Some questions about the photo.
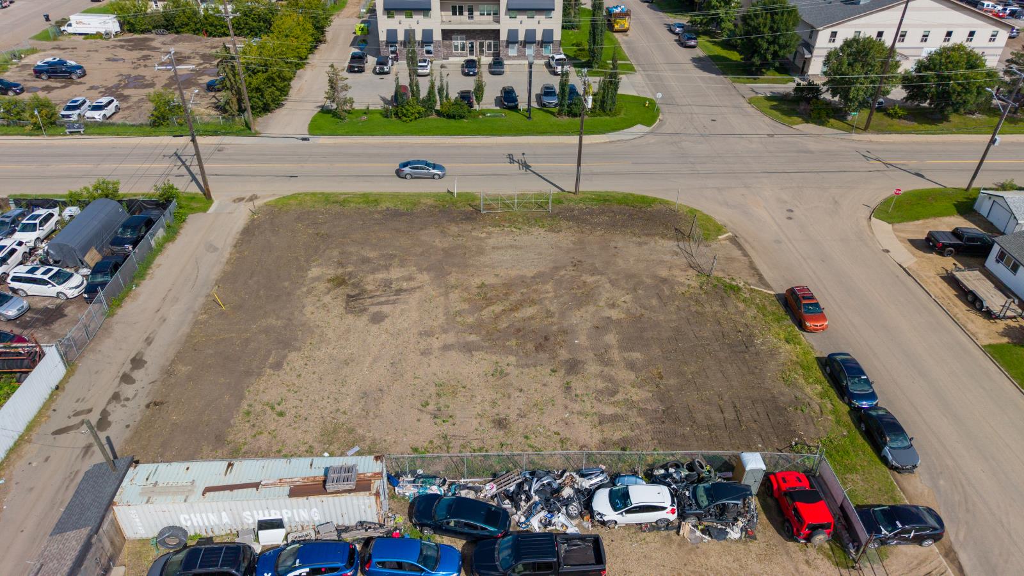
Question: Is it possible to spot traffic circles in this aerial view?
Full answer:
No, there is no traffic circle in the image.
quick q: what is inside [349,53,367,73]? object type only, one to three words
vehicle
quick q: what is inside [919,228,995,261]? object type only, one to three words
truck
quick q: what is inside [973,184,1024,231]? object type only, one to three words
building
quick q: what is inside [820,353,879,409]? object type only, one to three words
car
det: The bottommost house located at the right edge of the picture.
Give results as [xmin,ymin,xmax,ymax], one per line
[986,225,1024,300]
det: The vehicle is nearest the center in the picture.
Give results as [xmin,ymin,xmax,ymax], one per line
[396,160,445,180]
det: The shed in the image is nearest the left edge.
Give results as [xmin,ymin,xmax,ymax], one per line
[27,456,137,576]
